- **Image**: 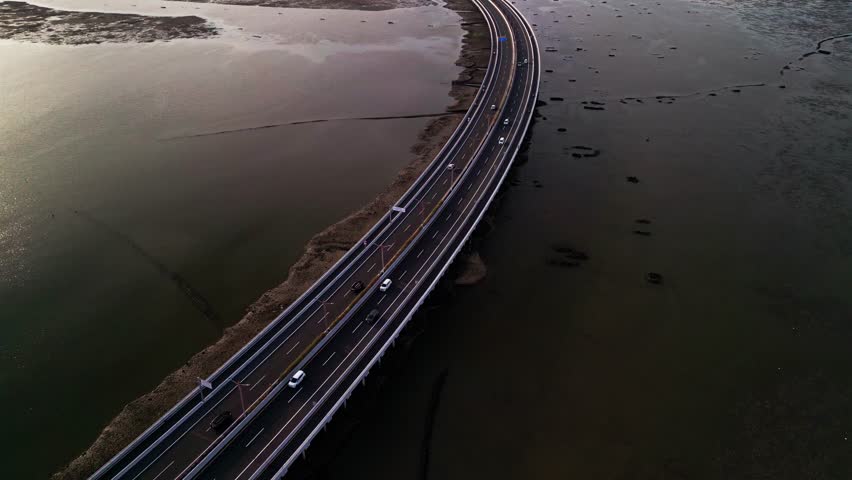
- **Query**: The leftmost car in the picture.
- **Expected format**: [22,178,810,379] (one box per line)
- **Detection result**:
[211,413,233,433]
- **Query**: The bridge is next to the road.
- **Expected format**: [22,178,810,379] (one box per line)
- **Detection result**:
[89,0,542,480]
